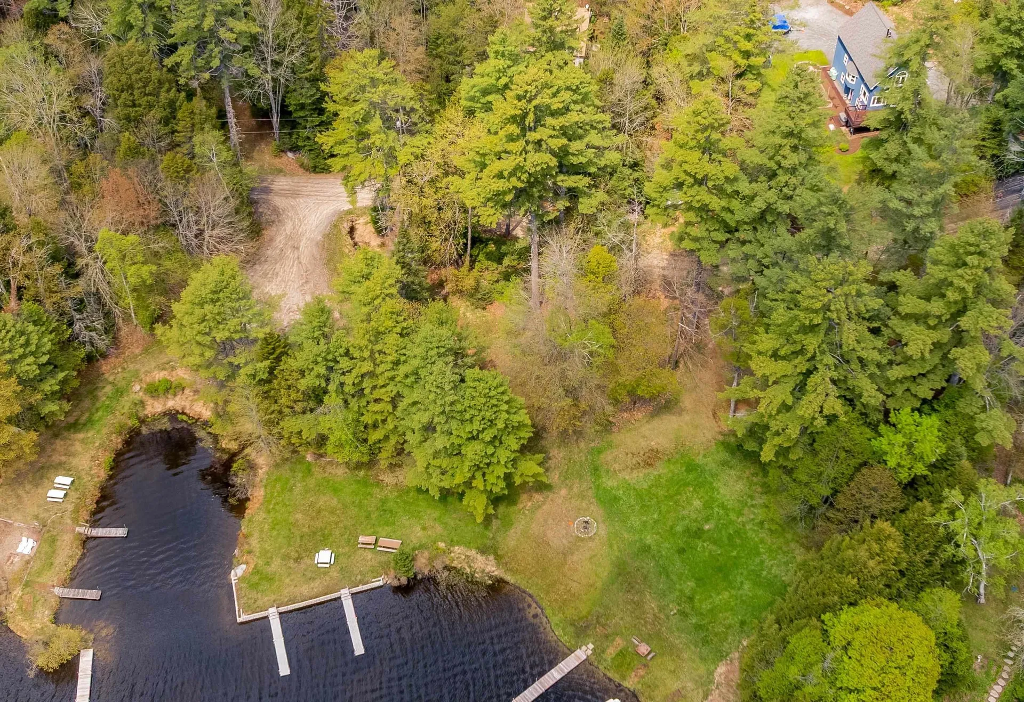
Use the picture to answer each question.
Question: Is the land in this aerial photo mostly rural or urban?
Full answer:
From above, the setting appears rural.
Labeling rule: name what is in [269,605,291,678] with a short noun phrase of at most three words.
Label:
pier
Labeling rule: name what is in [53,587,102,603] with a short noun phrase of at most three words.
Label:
pier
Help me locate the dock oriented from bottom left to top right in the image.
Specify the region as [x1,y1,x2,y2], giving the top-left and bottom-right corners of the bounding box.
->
[510,648,589,702]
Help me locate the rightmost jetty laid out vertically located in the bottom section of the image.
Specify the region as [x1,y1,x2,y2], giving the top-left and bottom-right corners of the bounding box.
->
[341,587,366,657]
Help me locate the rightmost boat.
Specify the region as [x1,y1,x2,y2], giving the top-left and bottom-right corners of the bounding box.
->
[767,16,794,28]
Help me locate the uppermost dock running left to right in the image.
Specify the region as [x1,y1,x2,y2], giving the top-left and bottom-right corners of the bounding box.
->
[77,524,128,539]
